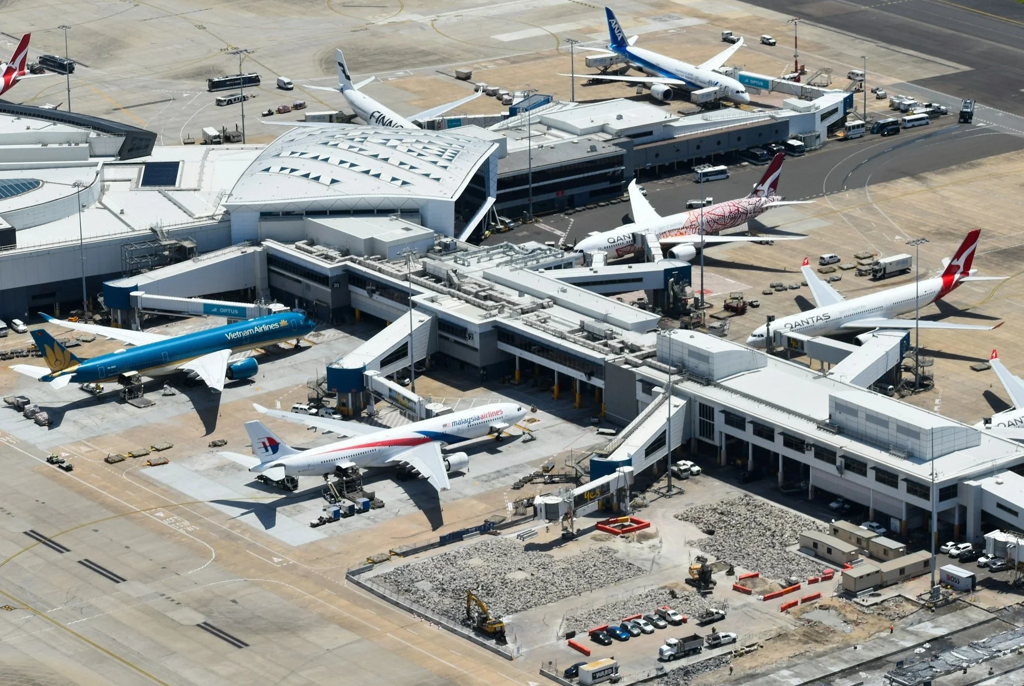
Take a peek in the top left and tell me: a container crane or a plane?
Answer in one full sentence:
The feature located in the top left is a plane.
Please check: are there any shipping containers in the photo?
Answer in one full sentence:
Yes, there's a shipping container here.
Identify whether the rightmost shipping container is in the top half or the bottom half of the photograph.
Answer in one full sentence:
Seen from above, the rightmost shipping container lies in the bottom half of the view.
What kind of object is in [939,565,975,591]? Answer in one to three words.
shipping container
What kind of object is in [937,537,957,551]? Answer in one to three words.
car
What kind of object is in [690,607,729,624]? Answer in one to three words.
vehicle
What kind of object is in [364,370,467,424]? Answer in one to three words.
jet bridge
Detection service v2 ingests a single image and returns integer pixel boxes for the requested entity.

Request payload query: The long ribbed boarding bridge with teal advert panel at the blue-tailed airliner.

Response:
[712,65,825,105]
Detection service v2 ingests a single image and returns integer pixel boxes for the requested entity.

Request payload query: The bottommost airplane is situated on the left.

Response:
[218,398,525,491]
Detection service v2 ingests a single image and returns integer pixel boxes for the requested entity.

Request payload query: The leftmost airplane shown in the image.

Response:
[0,33,53,90]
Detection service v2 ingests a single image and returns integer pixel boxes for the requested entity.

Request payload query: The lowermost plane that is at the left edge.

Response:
[18,308,316,387]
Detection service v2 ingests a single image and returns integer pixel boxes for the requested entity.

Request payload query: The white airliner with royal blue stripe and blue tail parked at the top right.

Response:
[560,8,751,105]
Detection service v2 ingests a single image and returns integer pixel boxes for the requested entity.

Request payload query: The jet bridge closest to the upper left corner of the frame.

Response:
[126,292,292,331]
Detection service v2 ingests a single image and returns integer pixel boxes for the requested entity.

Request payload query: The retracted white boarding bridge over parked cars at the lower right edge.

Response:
[977,532,1024,583]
